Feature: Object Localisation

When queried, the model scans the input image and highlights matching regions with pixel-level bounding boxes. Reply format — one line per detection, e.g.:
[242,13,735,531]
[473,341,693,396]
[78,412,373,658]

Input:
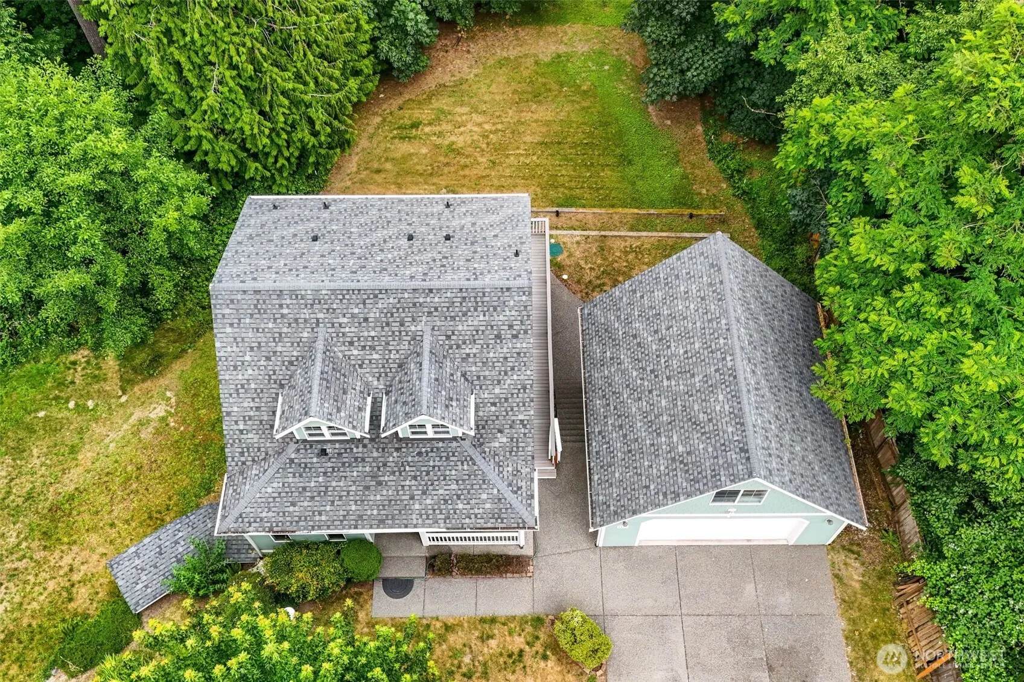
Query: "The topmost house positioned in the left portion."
[211,192,538,553]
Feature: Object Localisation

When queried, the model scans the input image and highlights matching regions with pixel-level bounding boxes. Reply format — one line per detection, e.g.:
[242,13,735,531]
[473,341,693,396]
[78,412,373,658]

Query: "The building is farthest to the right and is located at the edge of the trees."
[578,234,867,550]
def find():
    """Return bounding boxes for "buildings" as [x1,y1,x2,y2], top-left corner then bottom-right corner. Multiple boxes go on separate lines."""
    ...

[578,234,867,550]
[211,192,538,553]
